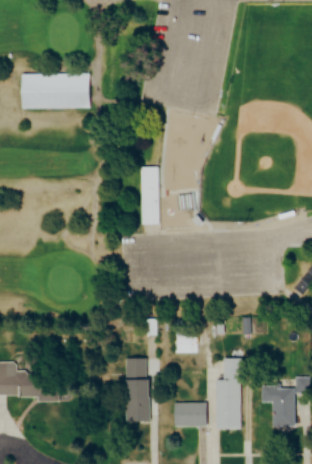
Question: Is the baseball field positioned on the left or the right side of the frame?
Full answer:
It is on the right.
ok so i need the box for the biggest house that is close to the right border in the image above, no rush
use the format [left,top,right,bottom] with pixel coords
[262,384,297,428]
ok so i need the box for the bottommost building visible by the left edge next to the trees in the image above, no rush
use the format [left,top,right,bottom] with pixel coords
[0,362,62,402]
